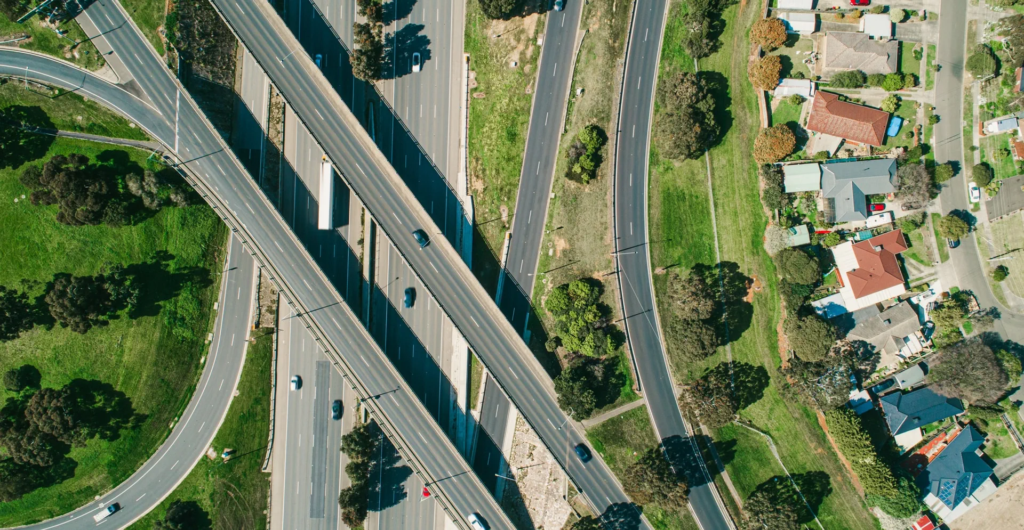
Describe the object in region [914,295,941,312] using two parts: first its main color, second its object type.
white boat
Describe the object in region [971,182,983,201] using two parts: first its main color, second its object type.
white vehicle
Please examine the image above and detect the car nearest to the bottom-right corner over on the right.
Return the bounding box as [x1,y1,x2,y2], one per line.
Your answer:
[875,380,895,394]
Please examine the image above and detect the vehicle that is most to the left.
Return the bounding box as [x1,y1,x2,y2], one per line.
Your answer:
[93,505,117,523]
